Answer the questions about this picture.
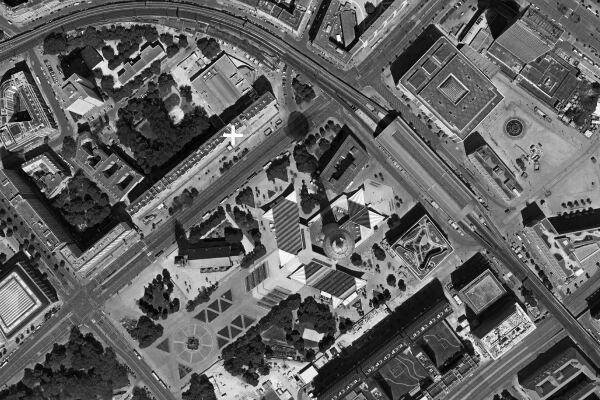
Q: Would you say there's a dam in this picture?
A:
No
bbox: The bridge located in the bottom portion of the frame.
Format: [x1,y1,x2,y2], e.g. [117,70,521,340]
[457,204,600,372]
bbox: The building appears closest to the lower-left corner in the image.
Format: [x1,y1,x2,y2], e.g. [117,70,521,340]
[0,262,59,339]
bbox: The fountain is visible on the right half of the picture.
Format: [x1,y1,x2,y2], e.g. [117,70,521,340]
[504,118,523,136]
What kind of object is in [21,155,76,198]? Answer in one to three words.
house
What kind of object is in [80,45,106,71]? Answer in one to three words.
house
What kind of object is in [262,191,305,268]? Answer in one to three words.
building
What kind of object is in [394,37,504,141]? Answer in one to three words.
building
